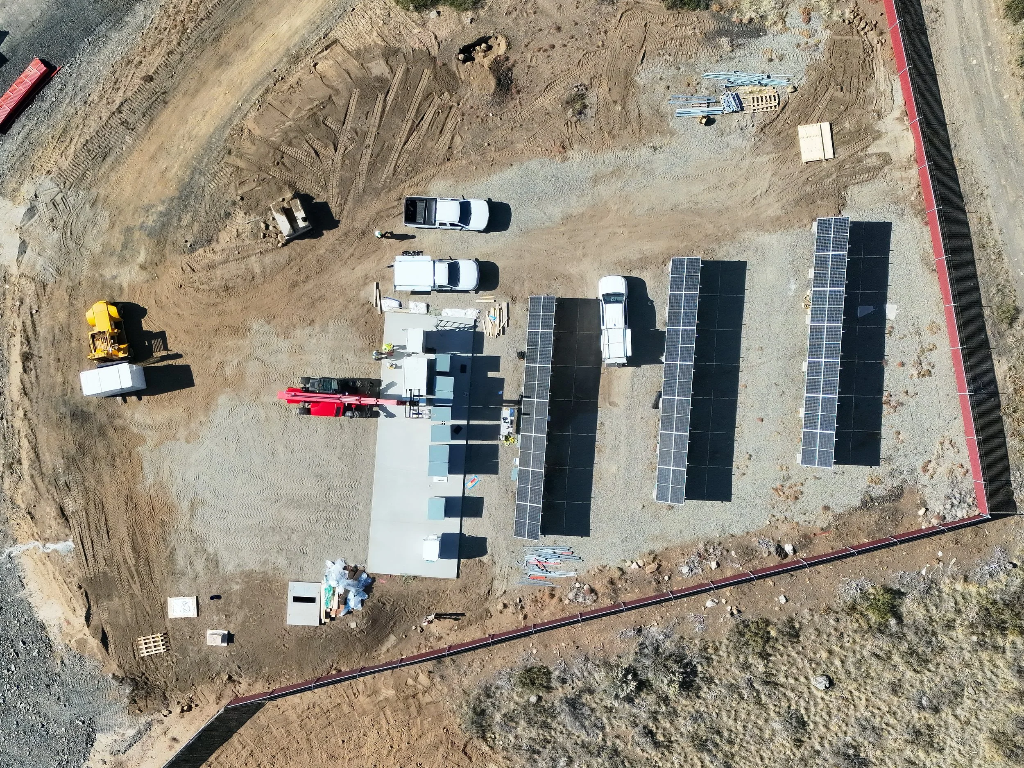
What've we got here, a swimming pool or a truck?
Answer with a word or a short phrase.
truck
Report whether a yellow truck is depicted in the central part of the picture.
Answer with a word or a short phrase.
No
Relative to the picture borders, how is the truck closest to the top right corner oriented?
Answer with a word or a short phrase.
up and down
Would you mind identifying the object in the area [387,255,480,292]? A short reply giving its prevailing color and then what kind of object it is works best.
white truck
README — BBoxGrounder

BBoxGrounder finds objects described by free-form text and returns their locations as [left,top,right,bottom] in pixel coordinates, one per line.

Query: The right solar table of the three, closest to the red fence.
[795,215,853,470]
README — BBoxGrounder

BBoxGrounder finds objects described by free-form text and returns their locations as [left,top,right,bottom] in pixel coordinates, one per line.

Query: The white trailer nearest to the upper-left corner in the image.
[80,363,145,401]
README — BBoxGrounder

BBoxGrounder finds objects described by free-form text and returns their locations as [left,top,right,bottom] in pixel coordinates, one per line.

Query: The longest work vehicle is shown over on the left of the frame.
[275,376,431,422]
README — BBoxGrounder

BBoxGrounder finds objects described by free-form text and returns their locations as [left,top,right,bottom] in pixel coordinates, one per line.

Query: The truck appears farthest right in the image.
[595,278,635,370]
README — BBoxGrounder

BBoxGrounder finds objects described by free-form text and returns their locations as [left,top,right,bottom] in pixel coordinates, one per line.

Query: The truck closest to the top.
[403,193,491,231]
